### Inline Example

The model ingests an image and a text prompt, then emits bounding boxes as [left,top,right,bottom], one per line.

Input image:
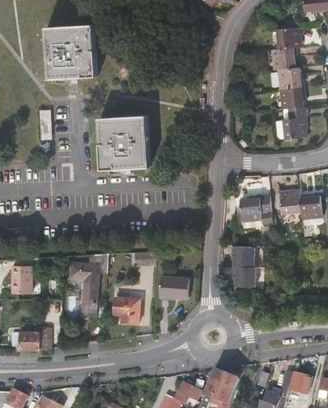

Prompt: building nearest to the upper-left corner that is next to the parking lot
[41,26,98,82]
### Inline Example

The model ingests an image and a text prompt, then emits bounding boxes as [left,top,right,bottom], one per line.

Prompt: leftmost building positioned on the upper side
[39,109,52,140]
